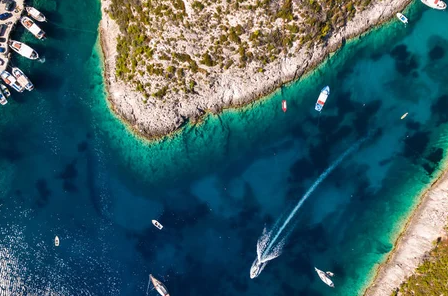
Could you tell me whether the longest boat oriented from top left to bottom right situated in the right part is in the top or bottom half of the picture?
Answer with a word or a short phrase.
bottom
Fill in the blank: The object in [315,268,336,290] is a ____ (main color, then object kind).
white boat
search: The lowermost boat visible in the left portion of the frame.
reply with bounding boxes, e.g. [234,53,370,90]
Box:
[144,275,170,296]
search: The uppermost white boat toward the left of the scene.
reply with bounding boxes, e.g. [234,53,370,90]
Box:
[23,4,46,21]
